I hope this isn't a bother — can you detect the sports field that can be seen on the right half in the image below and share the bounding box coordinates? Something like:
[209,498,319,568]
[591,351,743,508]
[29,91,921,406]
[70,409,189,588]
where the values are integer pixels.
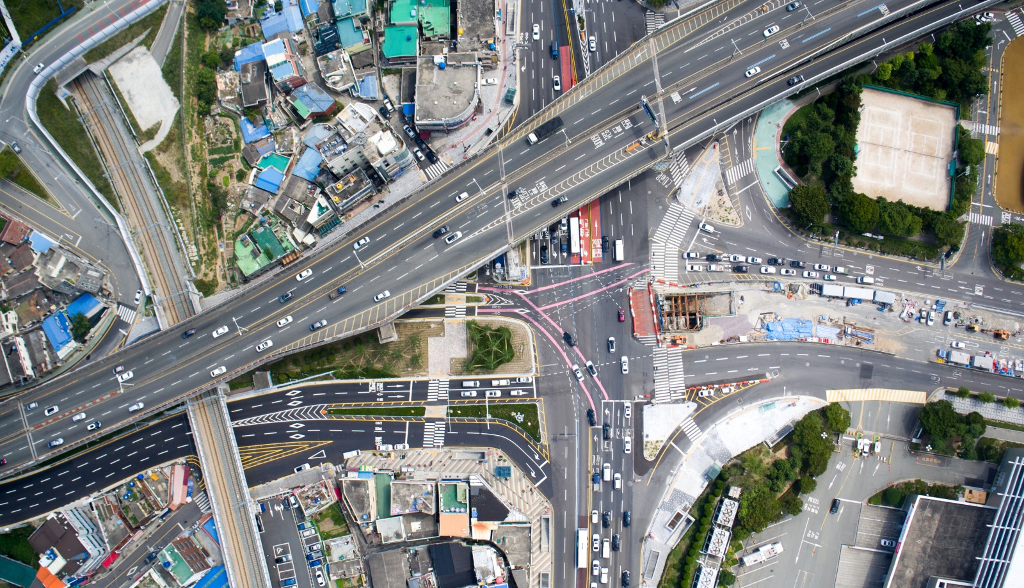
[995,35,1024,214]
